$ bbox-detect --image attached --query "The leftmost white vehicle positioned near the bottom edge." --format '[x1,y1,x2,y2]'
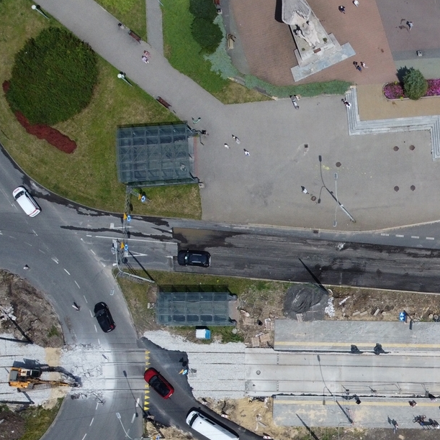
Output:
[190,411,239,440]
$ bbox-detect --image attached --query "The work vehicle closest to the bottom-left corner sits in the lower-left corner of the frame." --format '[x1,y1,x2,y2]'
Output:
[8,367,79,389]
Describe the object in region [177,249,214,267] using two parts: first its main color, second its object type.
black car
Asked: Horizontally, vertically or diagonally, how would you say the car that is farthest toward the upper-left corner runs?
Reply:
diagonally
